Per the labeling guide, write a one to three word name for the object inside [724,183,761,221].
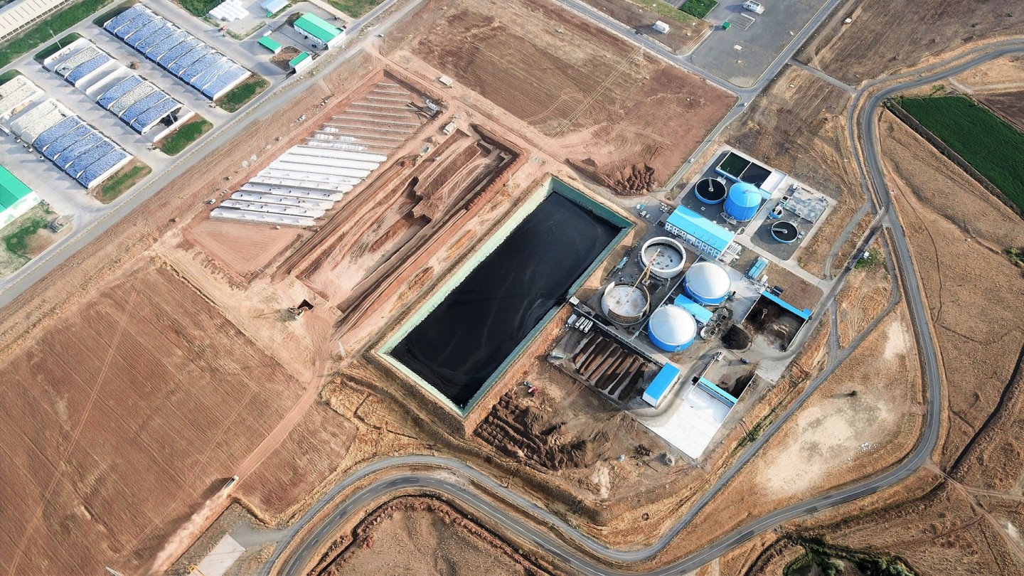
storage tank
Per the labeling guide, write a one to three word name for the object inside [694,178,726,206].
storage tank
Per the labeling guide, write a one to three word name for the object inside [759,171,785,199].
building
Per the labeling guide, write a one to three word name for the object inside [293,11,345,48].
barn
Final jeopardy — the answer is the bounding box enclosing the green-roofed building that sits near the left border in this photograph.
[0,158,37,220]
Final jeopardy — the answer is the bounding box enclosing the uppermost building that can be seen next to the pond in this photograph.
[664,205,735,258]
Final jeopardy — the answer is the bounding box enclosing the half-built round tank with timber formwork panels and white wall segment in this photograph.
[603,285,649,324]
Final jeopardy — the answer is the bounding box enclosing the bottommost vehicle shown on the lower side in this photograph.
[220,475,237,492]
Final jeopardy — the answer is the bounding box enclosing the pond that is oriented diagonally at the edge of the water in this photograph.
[377,176,635,418]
